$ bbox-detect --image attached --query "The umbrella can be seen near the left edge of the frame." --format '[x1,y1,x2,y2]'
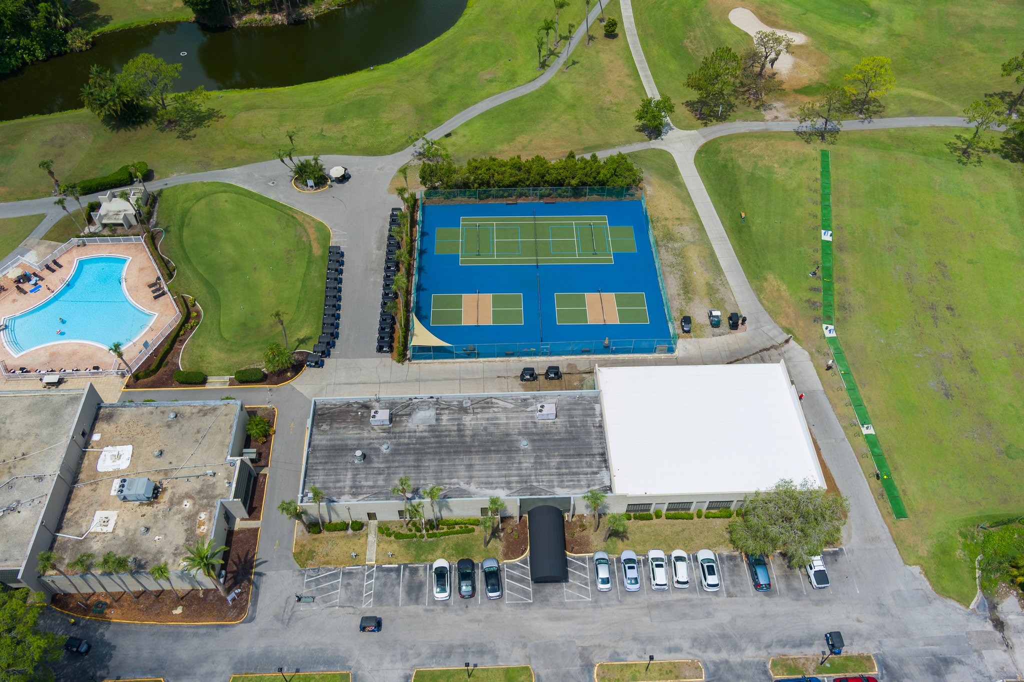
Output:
[6,267,24,282]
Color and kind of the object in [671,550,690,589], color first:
white car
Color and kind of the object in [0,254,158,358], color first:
blue swimming pool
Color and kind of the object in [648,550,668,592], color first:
white car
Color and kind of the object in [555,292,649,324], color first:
green sports court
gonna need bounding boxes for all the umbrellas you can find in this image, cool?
[6,267,24,282]
[328,164,345,175]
